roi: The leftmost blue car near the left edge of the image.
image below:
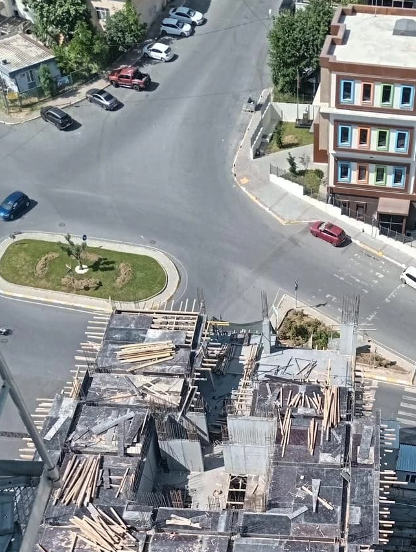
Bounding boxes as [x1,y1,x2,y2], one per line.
[0,186,32,220]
